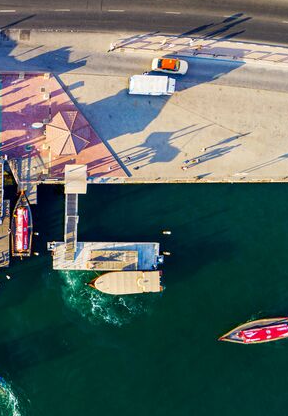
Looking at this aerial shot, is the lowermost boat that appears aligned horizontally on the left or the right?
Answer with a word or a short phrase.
right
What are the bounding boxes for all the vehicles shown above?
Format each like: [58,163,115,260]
[125,75,173,97]
[151,57,187,73]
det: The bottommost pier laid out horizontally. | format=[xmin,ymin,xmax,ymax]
[52,242,159,270]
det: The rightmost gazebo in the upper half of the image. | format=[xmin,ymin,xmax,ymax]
[44,110,91,156]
